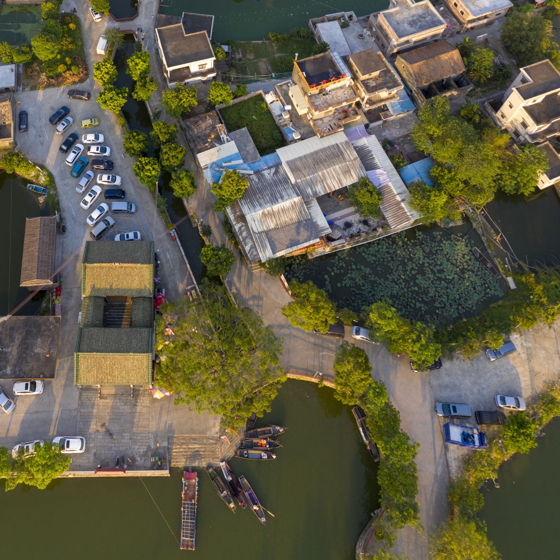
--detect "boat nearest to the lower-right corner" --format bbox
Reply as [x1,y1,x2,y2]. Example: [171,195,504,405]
[351,408,378,462]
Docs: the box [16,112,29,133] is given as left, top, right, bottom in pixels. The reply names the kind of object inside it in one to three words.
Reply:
vehicle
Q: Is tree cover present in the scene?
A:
Yes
